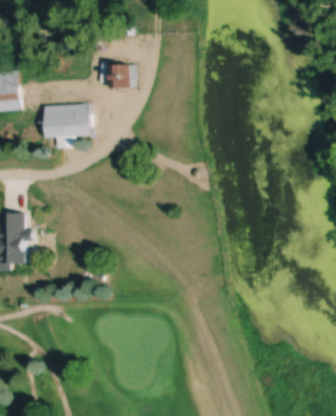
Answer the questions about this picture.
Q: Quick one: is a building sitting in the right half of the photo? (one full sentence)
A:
No, I see no building in the right half of the photo.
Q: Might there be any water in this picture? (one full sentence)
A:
Yes, there is water in the image.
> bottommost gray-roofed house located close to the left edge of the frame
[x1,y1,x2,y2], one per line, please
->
[0,212,34,271]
